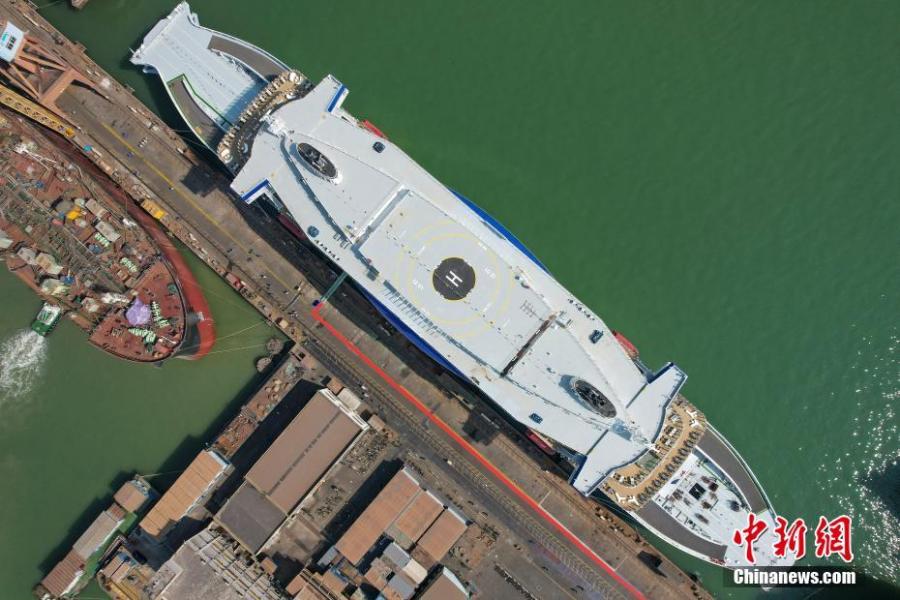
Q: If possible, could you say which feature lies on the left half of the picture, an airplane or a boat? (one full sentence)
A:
It is a boat that can be seen on the left half of the picture.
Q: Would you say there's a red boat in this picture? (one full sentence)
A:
Yes, the image includes a red boat.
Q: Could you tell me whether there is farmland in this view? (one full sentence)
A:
No, there's no farmland in this view.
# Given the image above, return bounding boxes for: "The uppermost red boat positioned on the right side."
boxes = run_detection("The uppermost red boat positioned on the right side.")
[613,333,635,360]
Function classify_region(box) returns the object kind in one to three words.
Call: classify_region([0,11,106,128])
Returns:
crane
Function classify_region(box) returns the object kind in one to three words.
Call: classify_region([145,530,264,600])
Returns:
building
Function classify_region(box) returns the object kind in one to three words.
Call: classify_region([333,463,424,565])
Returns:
building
